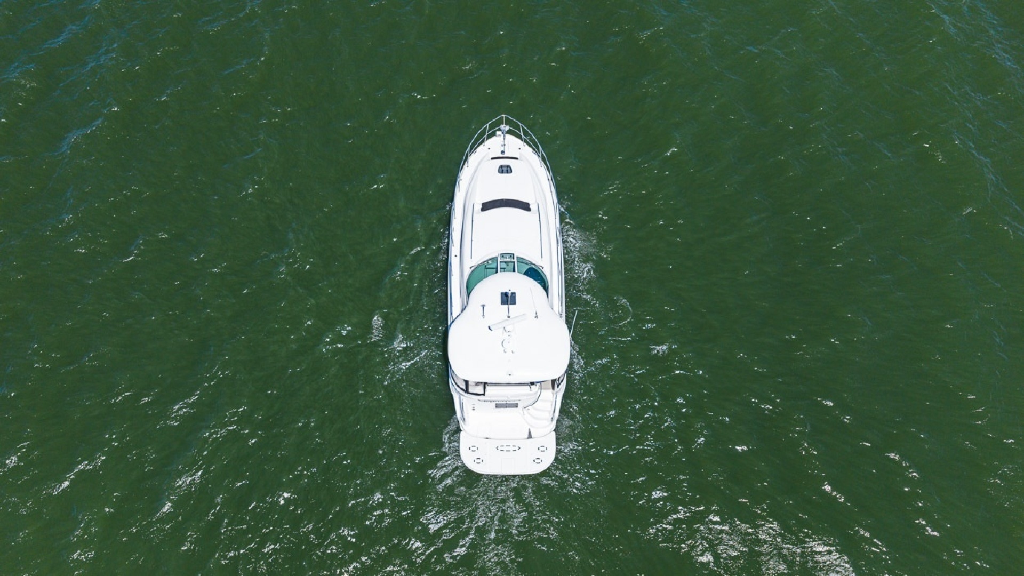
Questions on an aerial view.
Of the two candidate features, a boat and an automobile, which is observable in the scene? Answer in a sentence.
Looking from above, you can make out a boat.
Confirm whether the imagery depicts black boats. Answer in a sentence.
No, I can't see a single black boat in this photo.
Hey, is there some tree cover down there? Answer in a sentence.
No, no tree cover is visible.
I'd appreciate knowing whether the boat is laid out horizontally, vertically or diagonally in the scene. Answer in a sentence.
In this picture, the boat lies vertically.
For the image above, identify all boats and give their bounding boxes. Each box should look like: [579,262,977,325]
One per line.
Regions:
[447,114,577,475]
